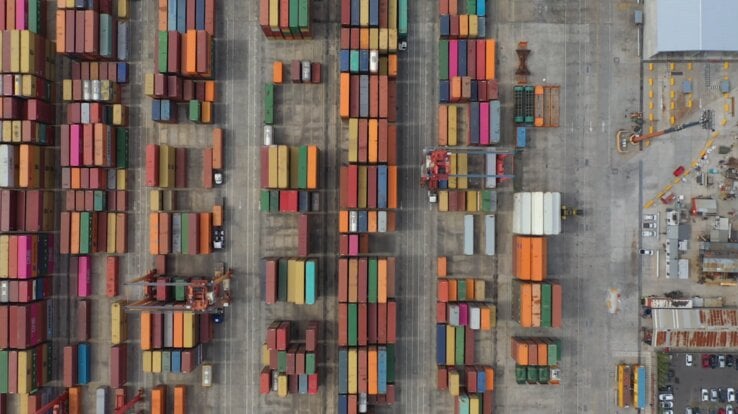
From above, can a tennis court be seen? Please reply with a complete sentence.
No, there's no tennis court here.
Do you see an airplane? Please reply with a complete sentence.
No, there isn't any airplane down there.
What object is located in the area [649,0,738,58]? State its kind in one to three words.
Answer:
building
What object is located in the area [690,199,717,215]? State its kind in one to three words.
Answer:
shed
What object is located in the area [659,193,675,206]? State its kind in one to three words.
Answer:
vehicle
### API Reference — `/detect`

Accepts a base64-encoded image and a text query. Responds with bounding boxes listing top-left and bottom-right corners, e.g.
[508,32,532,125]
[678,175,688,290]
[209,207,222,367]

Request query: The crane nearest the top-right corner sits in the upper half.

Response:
[616,108,717,151]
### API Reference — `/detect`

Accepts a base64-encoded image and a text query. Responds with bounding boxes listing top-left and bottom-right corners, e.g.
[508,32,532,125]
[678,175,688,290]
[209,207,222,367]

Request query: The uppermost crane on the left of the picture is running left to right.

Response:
[120,265,236,312]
